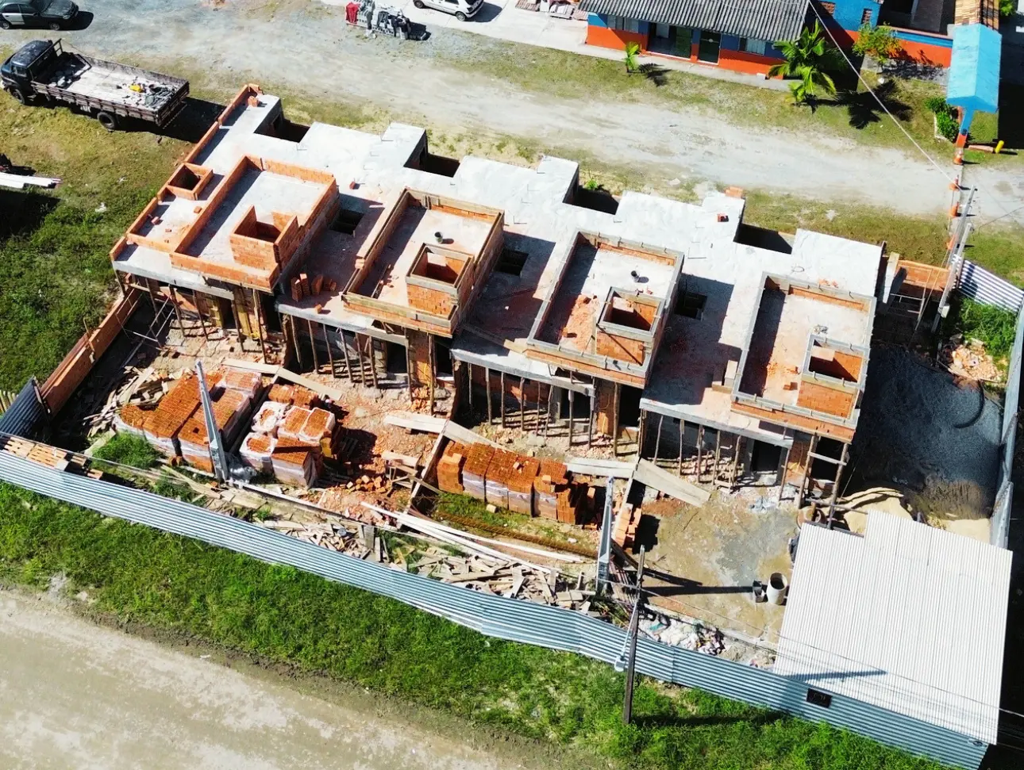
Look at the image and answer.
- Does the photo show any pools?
No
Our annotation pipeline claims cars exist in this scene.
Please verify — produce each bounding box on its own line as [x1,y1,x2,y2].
[0,0,79,30]
[416,0,487,21]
